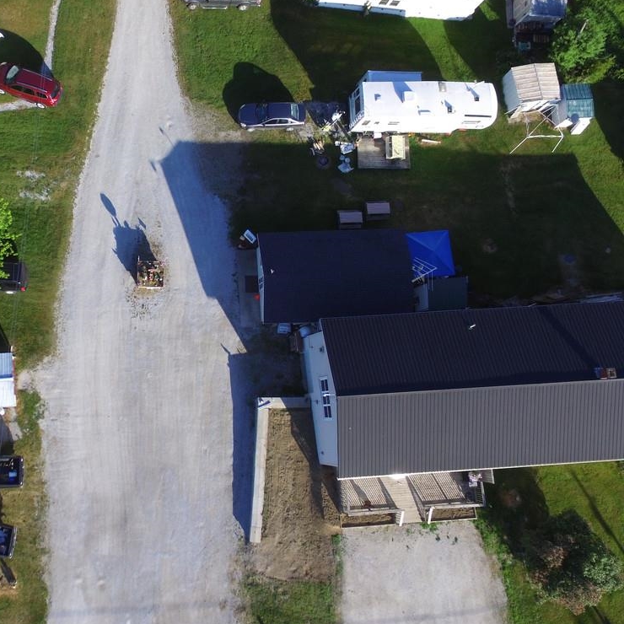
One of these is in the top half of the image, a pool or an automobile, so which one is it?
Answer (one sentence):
There is an automobile in the top half of the image.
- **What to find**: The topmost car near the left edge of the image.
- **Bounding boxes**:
[0,60,66,111]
